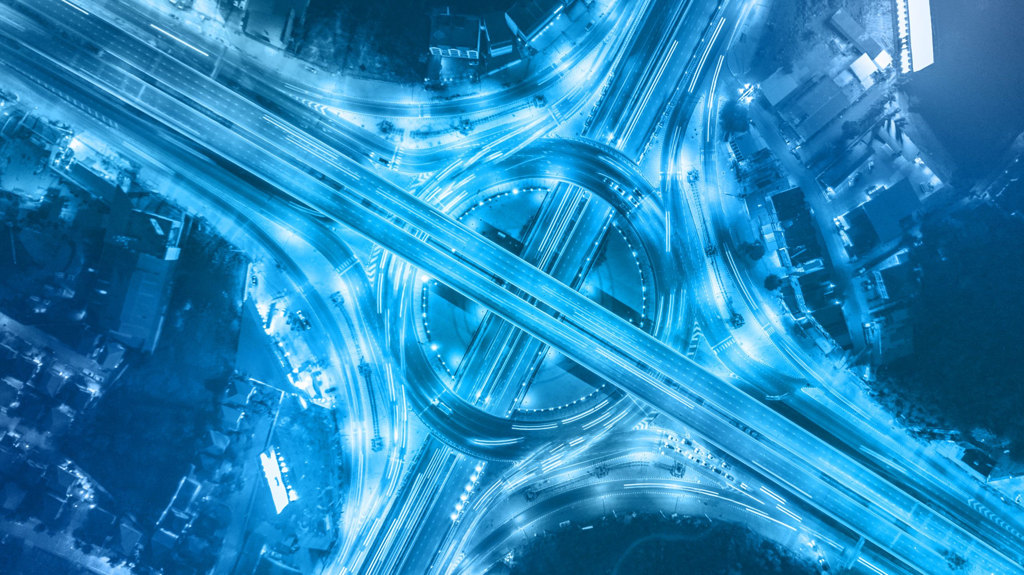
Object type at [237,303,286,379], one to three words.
building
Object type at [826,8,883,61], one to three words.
shed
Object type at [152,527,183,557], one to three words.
house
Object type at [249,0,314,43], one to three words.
building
